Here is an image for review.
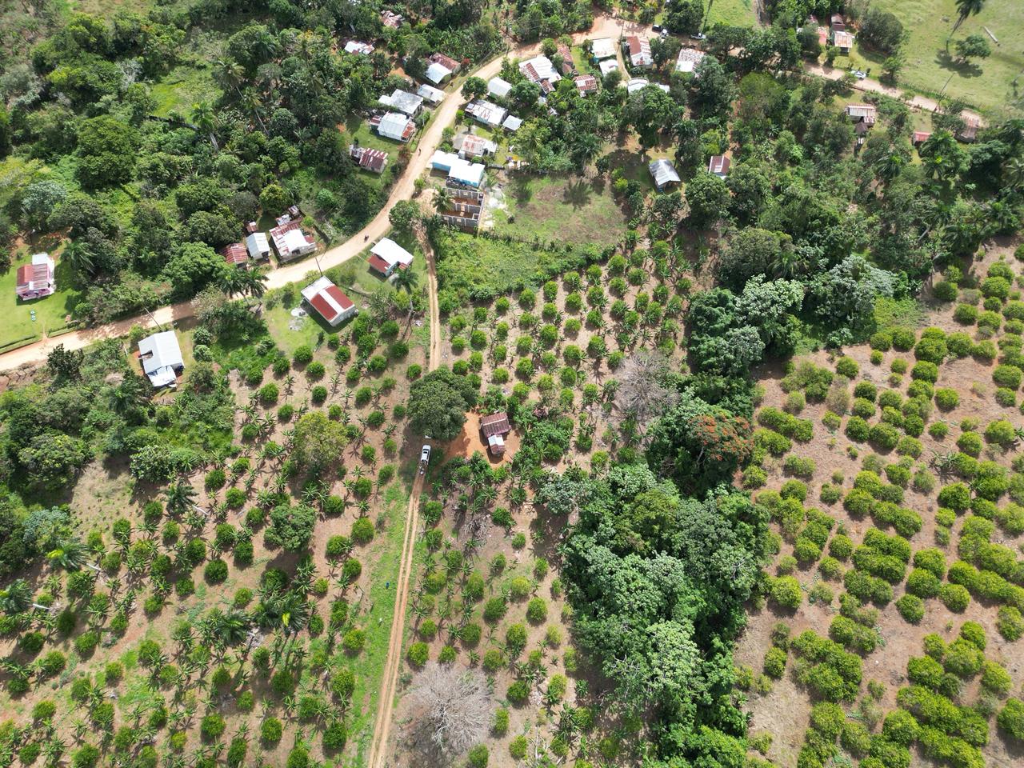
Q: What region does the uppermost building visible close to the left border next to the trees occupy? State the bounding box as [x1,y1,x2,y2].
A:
[16,252,60,299]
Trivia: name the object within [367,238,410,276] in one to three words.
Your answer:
house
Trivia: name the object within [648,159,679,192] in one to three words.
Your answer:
shed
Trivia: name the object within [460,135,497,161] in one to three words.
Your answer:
house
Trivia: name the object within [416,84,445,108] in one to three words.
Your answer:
shed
